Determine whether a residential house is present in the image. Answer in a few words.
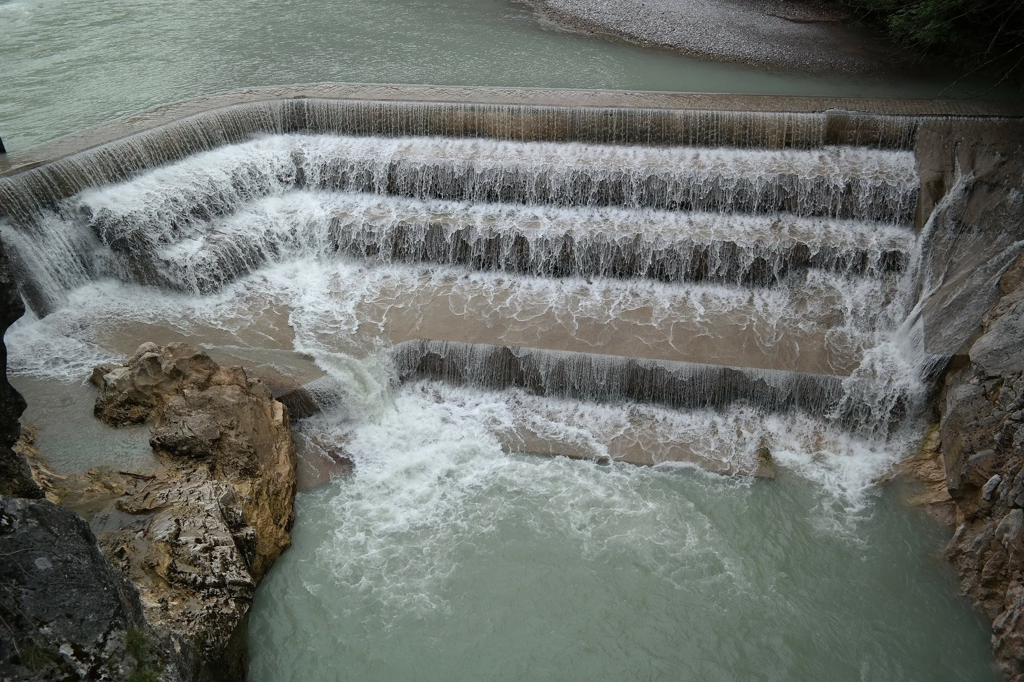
No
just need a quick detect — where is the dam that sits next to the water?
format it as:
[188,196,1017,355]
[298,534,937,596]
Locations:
[0,83,1024,483]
